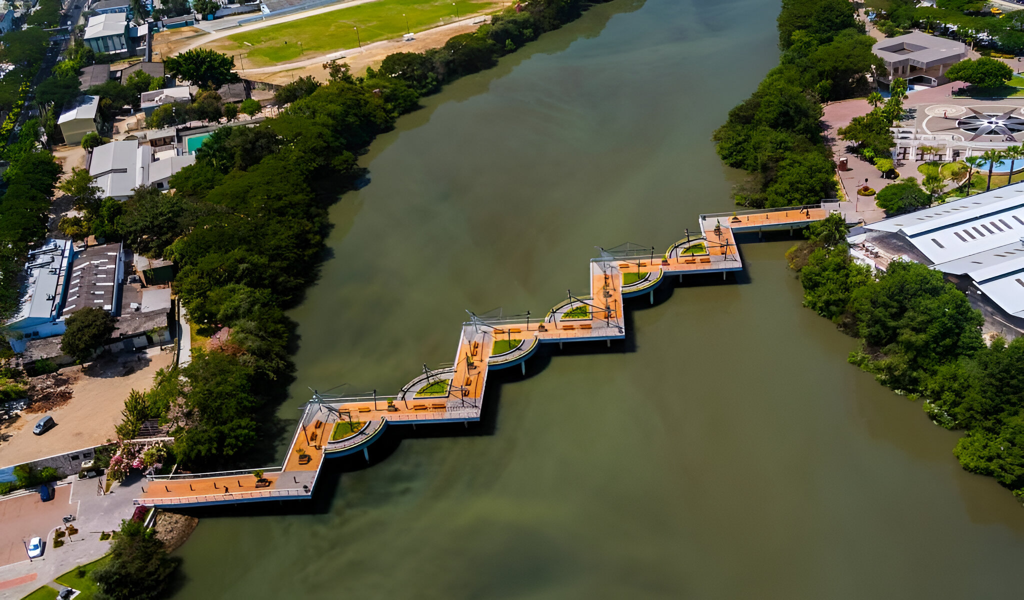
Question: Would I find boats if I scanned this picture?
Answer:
No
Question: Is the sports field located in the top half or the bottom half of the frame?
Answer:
top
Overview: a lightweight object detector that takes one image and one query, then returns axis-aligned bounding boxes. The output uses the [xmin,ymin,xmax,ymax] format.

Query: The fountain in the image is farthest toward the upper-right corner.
[953,107,1024,142]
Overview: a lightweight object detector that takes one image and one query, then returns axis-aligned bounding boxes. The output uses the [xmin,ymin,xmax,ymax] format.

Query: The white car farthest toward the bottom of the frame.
[27,538,42,558]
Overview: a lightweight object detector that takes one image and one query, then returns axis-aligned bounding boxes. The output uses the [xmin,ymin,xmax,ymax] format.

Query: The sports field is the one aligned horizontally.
[150,0,527,94]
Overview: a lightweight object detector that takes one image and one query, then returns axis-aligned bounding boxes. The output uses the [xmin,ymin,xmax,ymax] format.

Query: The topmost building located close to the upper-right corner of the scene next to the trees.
[872,31,964,91]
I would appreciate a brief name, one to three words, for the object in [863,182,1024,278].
building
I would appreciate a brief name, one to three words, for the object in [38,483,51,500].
vehicle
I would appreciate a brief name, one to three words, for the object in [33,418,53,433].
car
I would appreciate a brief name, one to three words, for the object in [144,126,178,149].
building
